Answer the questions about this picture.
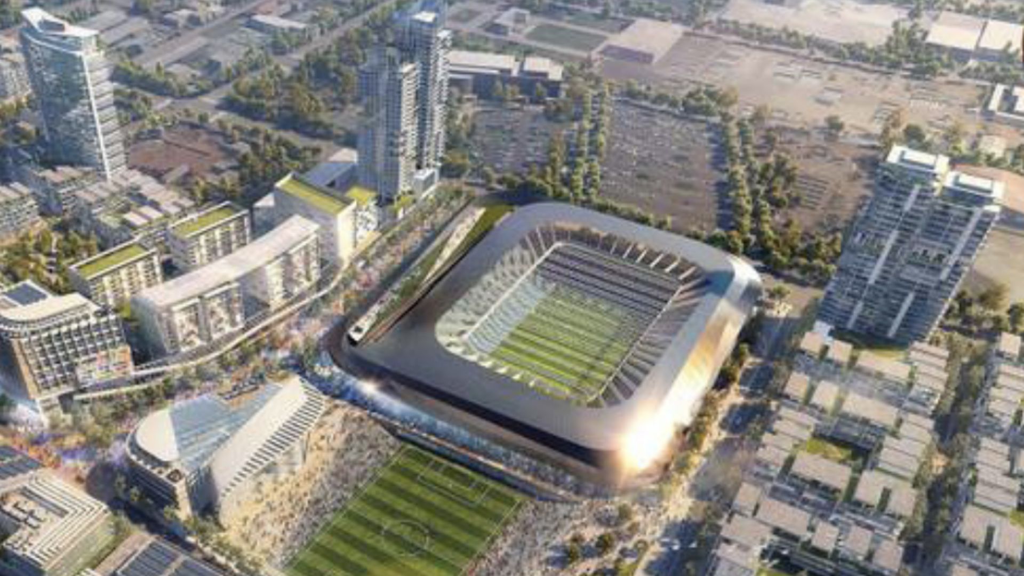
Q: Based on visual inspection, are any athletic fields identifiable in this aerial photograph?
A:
Yes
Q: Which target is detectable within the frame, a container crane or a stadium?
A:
stadium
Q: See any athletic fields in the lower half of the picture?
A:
Yes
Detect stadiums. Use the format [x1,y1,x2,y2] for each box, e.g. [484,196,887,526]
[306,193,758,510]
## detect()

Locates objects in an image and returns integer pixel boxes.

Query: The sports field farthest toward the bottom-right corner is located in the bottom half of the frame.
[491,293,656,408]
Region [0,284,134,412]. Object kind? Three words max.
building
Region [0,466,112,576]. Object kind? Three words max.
building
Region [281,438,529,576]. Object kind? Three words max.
sports field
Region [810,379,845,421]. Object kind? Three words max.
house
